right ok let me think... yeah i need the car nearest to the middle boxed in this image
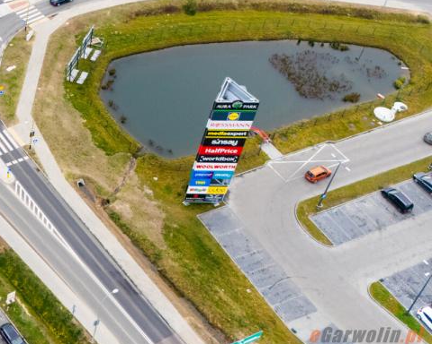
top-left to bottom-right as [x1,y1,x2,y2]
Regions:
[301,165,334,185]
